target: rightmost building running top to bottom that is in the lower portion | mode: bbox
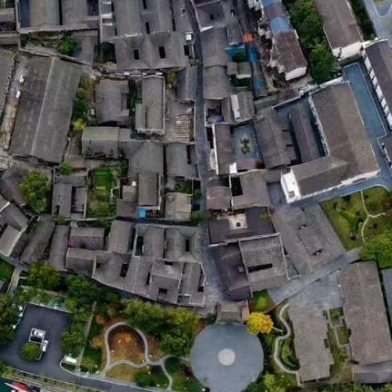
[337,262,392,366]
